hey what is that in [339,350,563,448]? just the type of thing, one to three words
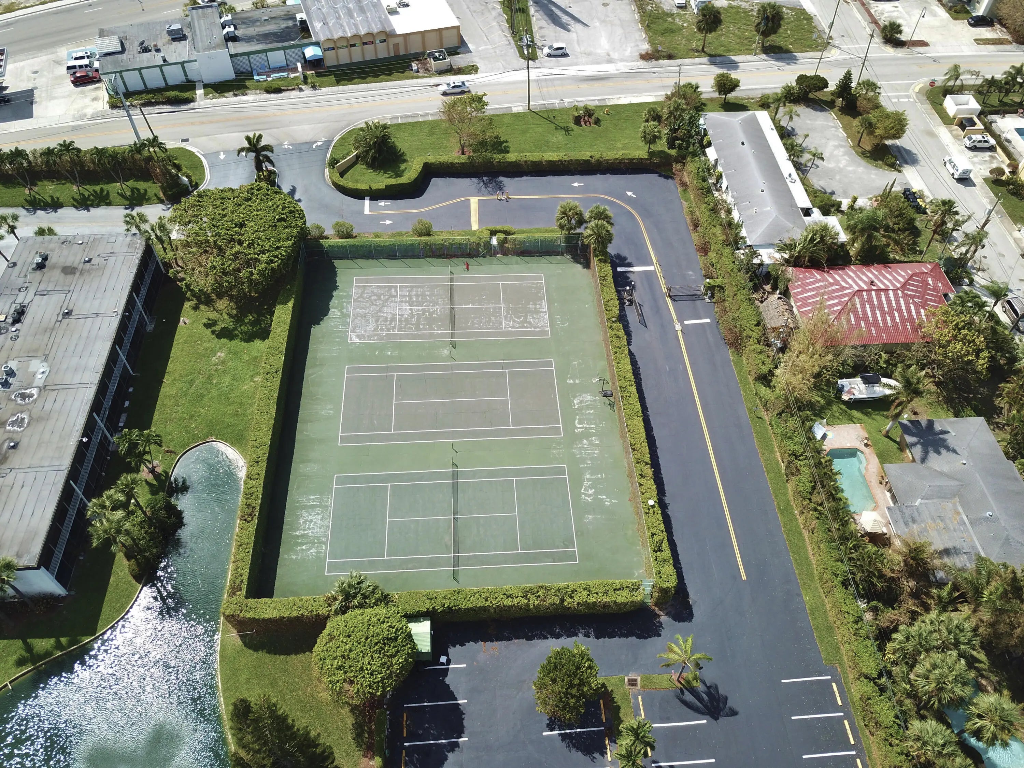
tennis court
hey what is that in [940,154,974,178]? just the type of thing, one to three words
truck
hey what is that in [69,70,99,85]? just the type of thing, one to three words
car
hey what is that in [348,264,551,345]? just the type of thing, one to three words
tennis court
